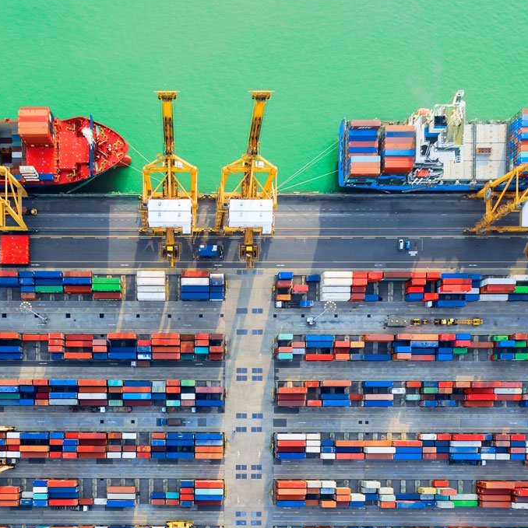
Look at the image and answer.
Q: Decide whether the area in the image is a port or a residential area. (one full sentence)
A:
The picture captures a port.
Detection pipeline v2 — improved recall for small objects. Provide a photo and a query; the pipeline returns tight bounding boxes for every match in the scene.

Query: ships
[0,114,135,193]
[334,88,528,192]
